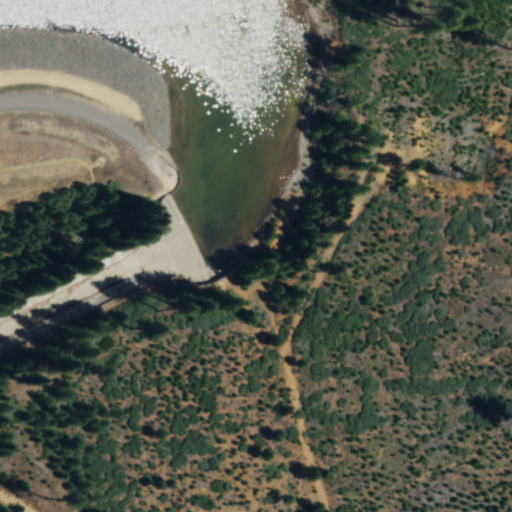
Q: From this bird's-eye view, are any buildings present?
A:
No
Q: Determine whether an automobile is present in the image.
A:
No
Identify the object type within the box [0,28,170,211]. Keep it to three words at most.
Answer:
dam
